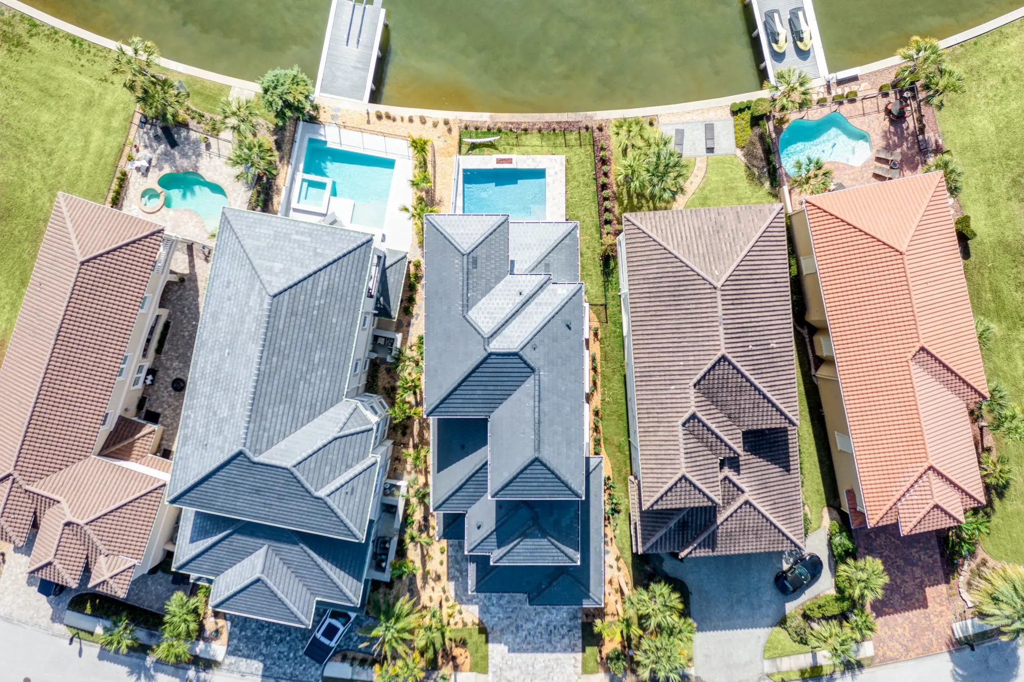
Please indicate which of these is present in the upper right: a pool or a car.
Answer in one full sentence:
The feature located in the upper right is a pool.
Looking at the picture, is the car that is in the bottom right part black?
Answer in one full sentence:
Yes, the car that is in the bottom right part is black.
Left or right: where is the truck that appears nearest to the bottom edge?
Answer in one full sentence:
It is on the left.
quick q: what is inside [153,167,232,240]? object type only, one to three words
swimming pool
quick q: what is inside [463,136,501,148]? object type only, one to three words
boat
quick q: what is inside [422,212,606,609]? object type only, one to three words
house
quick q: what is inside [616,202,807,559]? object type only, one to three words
house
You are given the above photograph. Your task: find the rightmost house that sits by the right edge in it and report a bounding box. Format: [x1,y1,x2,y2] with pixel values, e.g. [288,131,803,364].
[779,169,991,537]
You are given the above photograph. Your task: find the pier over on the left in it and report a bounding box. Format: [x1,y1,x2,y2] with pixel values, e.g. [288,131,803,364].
[315,0,391,105]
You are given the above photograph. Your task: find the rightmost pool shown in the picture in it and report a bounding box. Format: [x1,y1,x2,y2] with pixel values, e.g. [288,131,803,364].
[778,110,874,179]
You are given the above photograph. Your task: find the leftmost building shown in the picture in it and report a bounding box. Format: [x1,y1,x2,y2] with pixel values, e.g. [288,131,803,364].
[0,191,201,600]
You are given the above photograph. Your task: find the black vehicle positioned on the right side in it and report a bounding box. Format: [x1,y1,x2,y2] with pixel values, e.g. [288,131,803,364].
[771,551,827,598]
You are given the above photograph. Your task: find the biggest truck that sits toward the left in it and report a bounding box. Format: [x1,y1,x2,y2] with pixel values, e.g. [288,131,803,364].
[302,612,358,667]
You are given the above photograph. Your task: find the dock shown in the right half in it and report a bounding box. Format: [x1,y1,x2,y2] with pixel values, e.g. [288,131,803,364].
[741,0,829,85]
